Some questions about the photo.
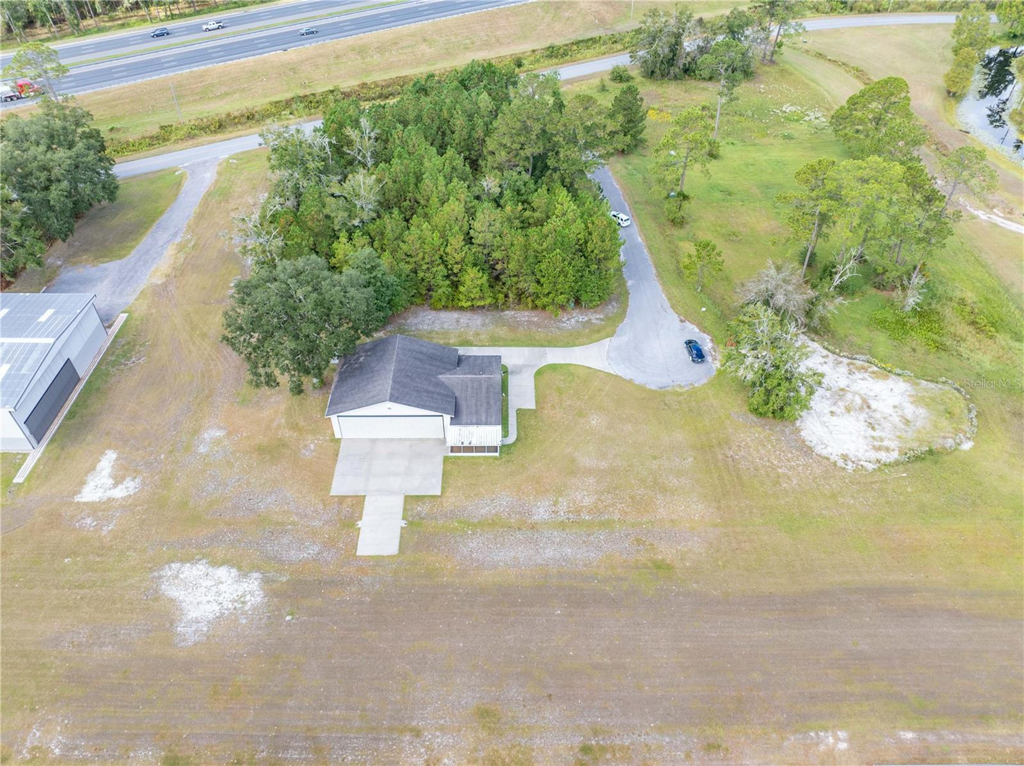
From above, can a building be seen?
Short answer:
Yes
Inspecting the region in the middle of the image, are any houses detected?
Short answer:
Yes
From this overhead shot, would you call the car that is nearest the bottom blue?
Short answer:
Yes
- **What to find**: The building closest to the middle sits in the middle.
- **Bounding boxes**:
[325,332,503,456]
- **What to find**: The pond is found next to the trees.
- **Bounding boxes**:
[953,41,1024,173]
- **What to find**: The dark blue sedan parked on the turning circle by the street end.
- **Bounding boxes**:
[683,340,708,364]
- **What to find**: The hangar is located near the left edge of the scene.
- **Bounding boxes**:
[0,294,111,454]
